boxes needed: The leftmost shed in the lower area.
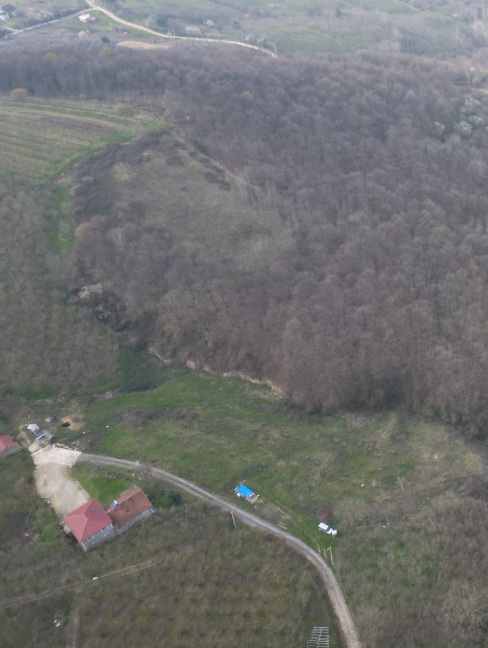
[0,435,21,461]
